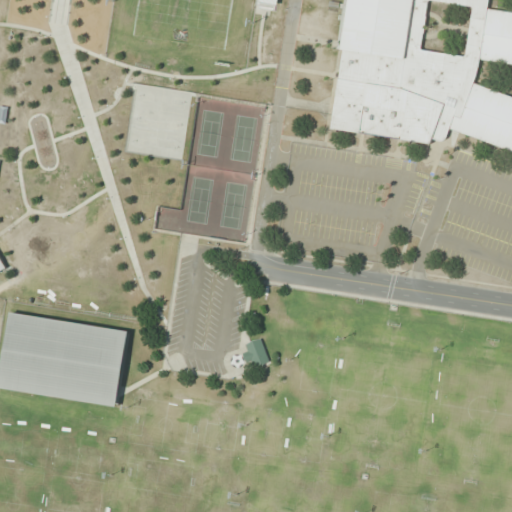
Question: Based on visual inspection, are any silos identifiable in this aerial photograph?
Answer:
No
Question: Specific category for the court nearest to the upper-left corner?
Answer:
basketball court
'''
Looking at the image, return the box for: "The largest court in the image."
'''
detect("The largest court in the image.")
[127,84,192,160]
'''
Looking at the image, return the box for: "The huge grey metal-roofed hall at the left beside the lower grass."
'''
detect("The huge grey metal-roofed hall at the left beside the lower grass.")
[0,312,130,407]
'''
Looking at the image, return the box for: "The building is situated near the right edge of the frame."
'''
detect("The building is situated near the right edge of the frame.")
[332,0,512,150]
